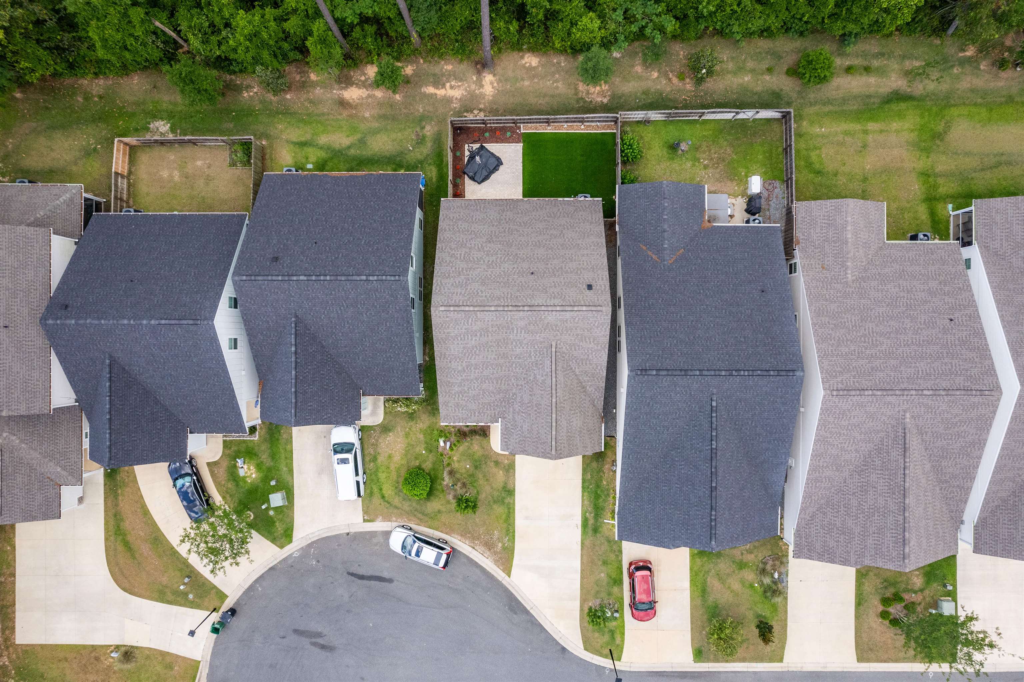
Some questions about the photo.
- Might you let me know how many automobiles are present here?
four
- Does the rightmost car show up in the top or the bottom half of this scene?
bottom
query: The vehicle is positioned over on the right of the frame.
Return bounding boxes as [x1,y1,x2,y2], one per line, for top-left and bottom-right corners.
[628,559,662,623]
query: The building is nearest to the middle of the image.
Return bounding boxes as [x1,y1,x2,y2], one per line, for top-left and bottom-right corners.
[431,196,614,461]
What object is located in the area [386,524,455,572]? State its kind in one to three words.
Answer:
car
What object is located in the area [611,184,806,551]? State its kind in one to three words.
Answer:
house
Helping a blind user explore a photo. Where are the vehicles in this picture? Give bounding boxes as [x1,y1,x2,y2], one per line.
[326,422,367,501]
[165,457,215,526]
[628,559,662,623]
[386,524,455,572]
